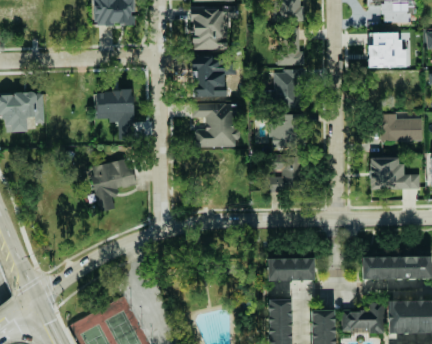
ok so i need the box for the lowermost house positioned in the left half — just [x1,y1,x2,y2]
[90,161,136,212]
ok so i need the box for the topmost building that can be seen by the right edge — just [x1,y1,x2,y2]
[382,0,415,23]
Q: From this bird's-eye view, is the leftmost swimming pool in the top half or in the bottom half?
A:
bottom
